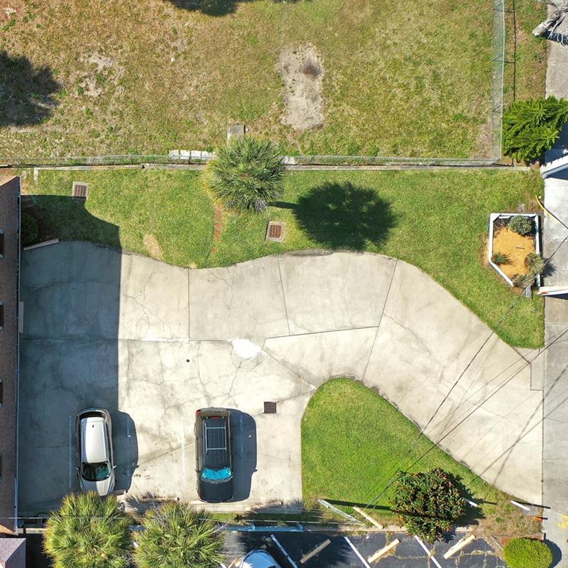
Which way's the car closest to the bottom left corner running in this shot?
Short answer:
vertically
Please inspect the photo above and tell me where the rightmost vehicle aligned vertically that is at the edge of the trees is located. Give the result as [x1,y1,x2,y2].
[191,404,239,501]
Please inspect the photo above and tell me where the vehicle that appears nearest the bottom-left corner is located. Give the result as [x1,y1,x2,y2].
[74,409,117,494]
